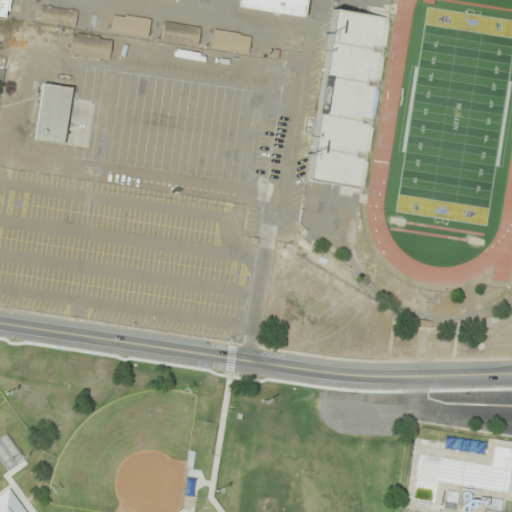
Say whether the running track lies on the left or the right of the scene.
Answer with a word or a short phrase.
right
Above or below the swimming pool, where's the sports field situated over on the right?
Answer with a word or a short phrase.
above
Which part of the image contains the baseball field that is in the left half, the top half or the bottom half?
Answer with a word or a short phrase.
bottom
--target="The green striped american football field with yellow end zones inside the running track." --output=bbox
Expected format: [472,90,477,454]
[384,0,512,266]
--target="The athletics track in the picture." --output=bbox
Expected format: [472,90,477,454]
[367,0,512,291]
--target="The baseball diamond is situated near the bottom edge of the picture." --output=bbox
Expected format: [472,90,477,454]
[51,390,196,512]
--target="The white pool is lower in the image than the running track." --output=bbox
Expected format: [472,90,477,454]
[414,446,512,506]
